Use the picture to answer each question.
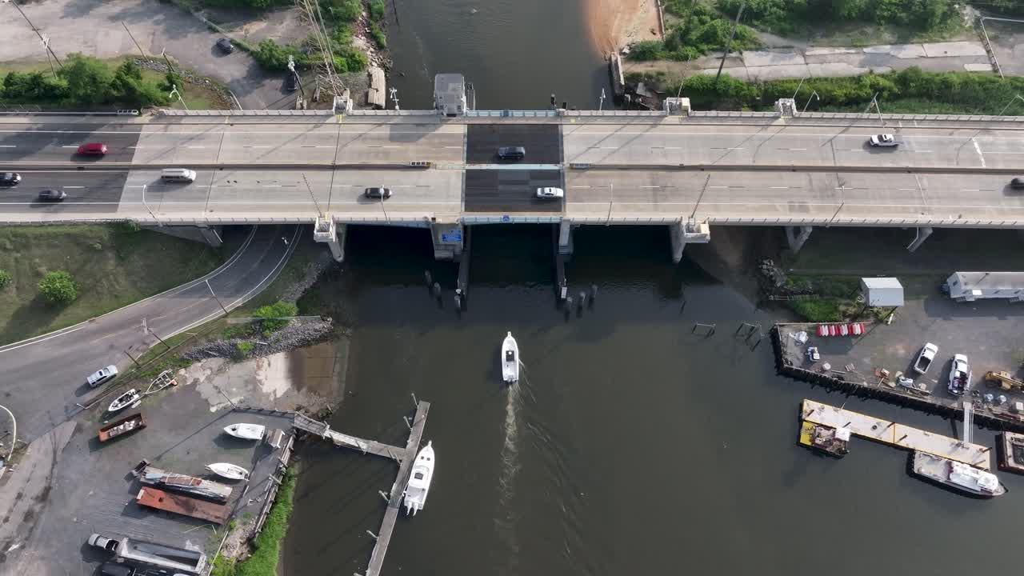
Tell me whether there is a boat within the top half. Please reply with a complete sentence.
No, there's no boat to be seen within the top half.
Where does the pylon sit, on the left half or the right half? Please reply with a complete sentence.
You can find the pylon on the left side of the picture.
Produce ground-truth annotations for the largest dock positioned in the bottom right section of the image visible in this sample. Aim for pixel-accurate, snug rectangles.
[797,399,997,467]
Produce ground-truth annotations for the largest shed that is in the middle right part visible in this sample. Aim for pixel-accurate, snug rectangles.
[848,277,905,319]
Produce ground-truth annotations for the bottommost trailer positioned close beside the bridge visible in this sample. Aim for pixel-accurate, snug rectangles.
[938,271,1024,303]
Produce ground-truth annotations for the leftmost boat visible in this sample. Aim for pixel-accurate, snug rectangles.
[107,389,140,413]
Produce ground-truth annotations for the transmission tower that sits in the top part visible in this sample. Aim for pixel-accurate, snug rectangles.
[285,0,343,105]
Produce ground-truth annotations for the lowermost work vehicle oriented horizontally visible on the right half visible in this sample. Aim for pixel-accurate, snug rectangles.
[984,372,1024,393]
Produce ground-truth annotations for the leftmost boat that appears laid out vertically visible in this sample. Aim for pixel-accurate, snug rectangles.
[403,441,433,515]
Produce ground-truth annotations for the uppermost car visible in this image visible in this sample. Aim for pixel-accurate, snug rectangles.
[213,40,236,52]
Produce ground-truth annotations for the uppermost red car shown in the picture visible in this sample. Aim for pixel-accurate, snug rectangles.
[76,144,105,157]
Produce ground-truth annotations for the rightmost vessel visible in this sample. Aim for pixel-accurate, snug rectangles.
[997,432,1024,479]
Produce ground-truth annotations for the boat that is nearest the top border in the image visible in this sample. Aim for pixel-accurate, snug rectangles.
[502,333,519,384]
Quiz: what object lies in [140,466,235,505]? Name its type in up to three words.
ship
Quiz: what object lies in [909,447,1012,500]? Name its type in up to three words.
boat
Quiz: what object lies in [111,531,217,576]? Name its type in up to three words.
trailer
